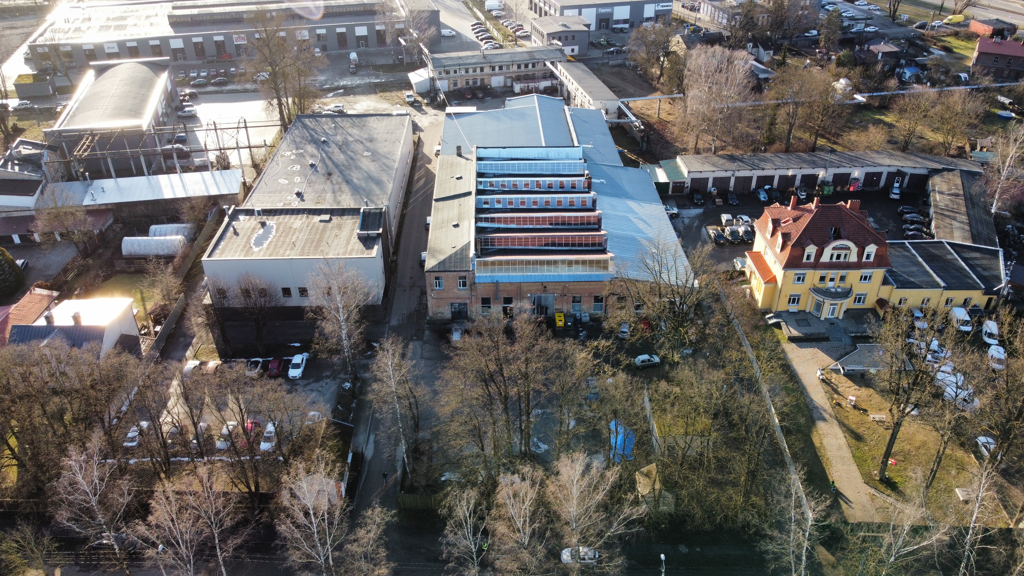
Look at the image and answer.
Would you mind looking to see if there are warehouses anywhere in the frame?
Yes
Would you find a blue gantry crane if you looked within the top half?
No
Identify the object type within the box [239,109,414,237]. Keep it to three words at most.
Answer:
warehouse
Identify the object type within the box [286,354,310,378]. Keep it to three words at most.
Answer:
car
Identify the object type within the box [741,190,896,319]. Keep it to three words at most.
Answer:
house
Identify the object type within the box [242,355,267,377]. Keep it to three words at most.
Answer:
car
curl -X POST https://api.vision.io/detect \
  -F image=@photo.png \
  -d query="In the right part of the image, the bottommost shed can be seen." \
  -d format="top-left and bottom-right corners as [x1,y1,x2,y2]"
[636,463,678,512]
